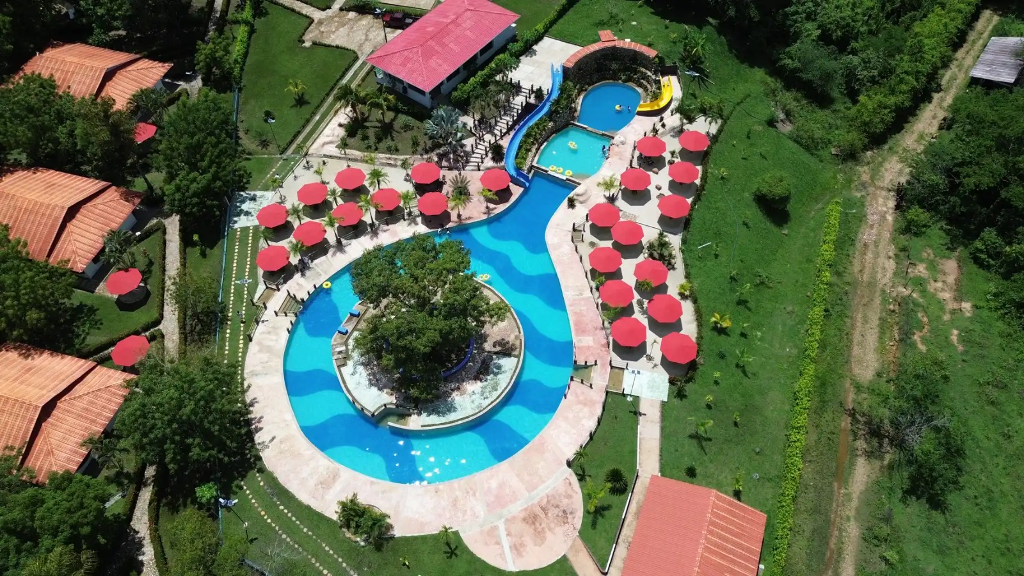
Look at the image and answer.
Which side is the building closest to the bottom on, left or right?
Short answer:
right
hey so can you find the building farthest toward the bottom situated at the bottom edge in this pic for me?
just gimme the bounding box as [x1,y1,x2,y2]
[621,474,767,576]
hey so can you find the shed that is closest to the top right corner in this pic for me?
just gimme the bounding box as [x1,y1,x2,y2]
[963,36,1024,92]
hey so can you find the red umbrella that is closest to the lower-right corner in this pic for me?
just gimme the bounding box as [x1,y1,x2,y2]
[659,333,697,364]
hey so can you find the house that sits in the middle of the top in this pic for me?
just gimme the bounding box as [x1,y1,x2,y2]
[363,0,521,108]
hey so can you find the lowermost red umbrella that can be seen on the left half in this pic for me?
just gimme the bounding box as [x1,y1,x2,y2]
[111,336,150,367]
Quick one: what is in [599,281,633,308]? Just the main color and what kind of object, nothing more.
red umbrella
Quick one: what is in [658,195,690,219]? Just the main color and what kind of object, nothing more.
red umbrella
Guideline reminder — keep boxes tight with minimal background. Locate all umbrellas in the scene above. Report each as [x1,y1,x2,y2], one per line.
[679,132,708,154]
[133,123,161,145]
[659,333,697,364]
[371,189,402,213]
[417,193,449,216]
[621,169,651,192]
[599,281,633,308]
[292,221,327,246]
[296,183,328,207]
[658,195,690,219]
[411,163,441,186]
[111,336,150,367]
[668,162,699,185]
[256,247,290,272]
[587,247,622,274]
[647,295,683,323]
[334,169,365,192]
[480,169,511,192]
[634,260,668,286]
[333,203,364,227]
[610,318,646,348]
[636,137,666,158]
[611,221,644,246]
[587,204,620,228]
[256,205,289,229]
